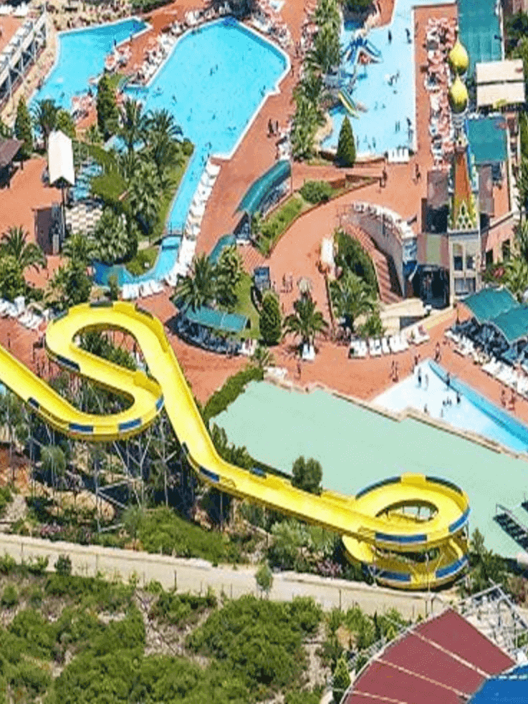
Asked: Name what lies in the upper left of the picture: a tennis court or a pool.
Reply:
pool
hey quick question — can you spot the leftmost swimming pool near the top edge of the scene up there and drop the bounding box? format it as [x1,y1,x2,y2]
[30,18,150,113]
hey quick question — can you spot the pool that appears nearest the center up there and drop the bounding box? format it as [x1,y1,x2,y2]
[91,240,181,291]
